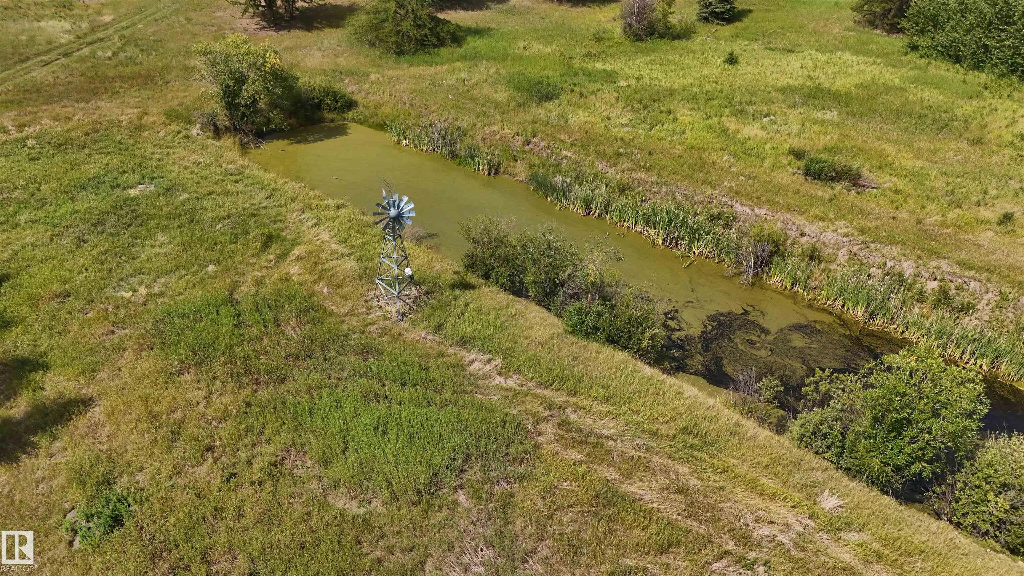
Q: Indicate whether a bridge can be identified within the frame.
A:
No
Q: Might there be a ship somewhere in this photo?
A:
No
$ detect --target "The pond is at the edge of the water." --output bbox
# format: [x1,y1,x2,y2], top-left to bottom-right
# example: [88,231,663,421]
[251,122,1024,549]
